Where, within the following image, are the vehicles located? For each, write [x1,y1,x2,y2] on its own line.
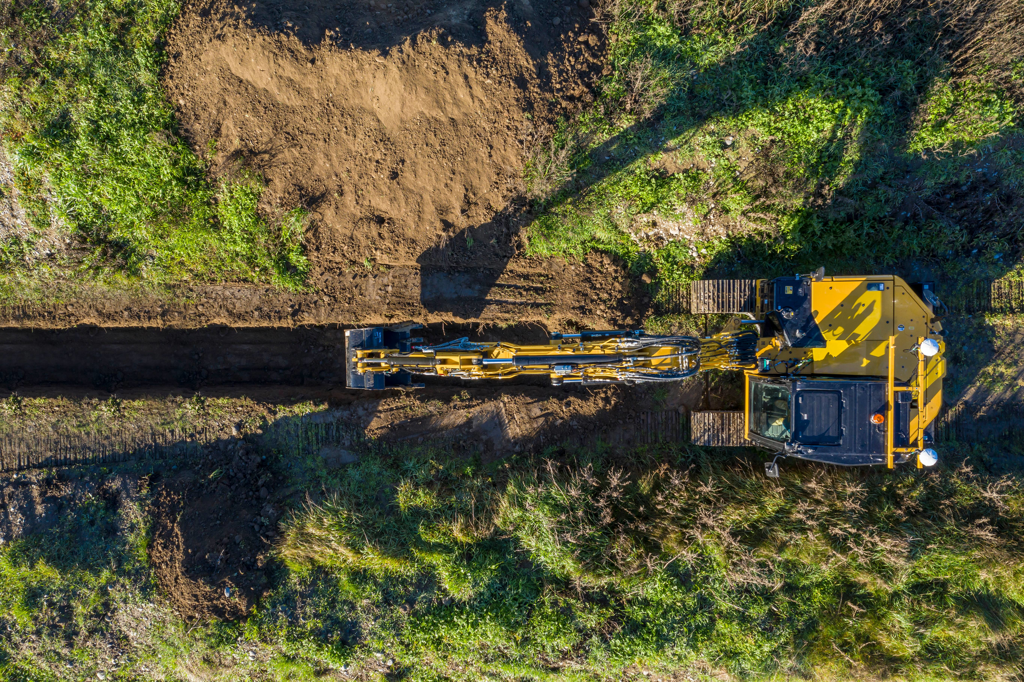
[345,267,950,476]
